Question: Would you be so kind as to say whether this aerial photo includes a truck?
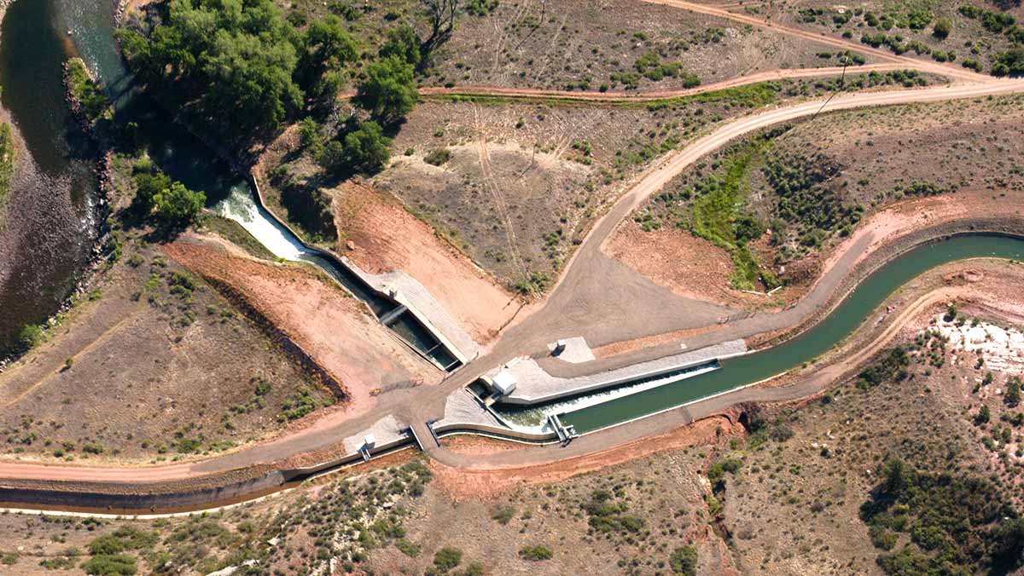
No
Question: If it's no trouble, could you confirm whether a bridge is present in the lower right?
No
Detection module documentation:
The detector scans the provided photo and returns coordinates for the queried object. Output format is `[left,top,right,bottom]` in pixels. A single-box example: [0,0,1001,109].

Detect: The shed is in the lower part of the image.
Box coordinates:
[491,368,518,394]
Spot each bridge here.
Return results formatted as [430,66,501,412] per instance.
[401,420,440,451]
